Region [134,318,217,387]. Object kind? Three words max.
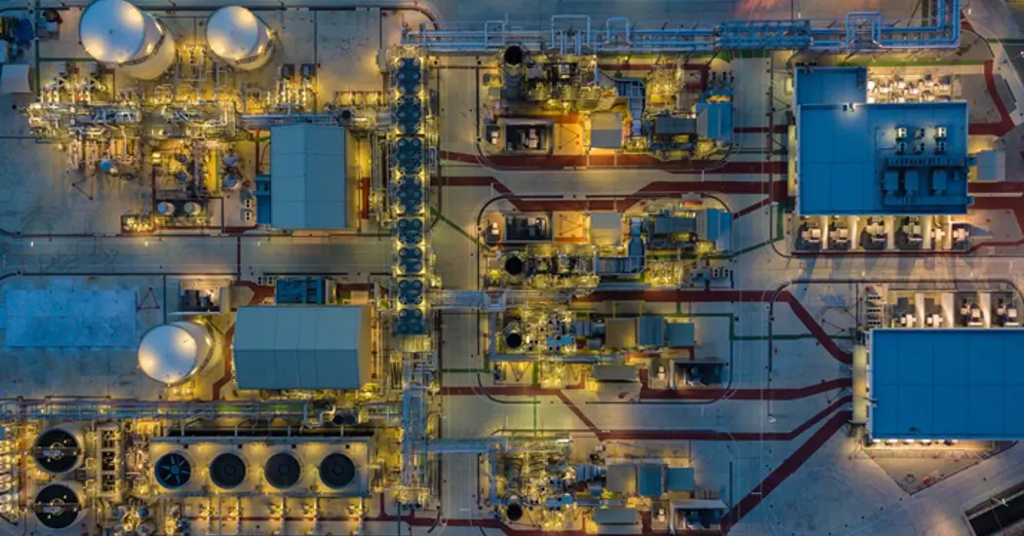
storage tank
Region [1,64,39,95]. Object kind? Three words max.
shed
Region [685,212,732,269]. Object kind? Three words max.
house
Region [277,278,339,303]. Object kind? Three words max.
shipping container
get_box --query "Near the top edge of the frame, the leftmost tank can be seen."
[79,0,180,83]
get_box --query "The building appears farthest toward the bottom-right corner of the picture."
[862,328,1024,440]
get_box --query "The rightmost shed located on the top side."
[969,151,1005,182]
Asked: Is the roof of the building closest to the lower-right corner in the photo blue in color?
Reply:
Yes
